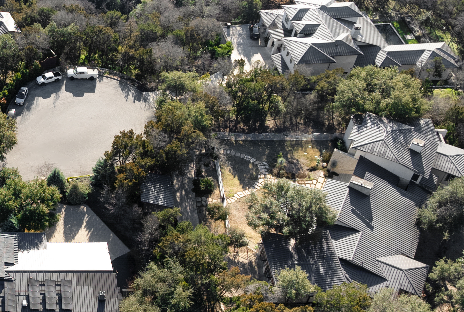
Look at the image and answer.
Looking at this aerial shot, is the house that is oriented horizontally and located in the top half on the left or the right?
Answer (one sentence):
The house that is oriented horizontally and located in the top half appears in the right half of the scene.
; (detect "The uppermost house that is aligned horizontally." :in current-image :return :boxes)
[259,0,459,89]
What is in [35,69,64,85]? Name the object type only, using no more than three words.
vehicle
